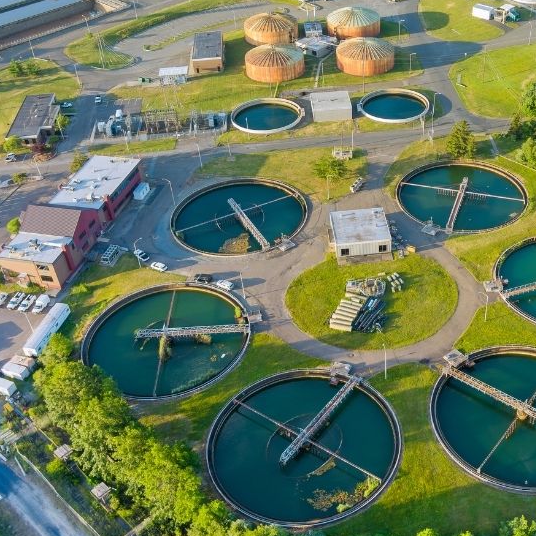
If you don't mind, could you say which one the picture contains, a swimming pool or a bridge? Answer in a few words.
bridge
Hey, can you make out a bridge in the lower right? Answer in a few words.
Yes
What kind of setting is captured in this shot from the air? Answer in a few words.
industrial area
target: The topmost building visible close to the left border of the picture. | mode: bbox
[6,94,61,147]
